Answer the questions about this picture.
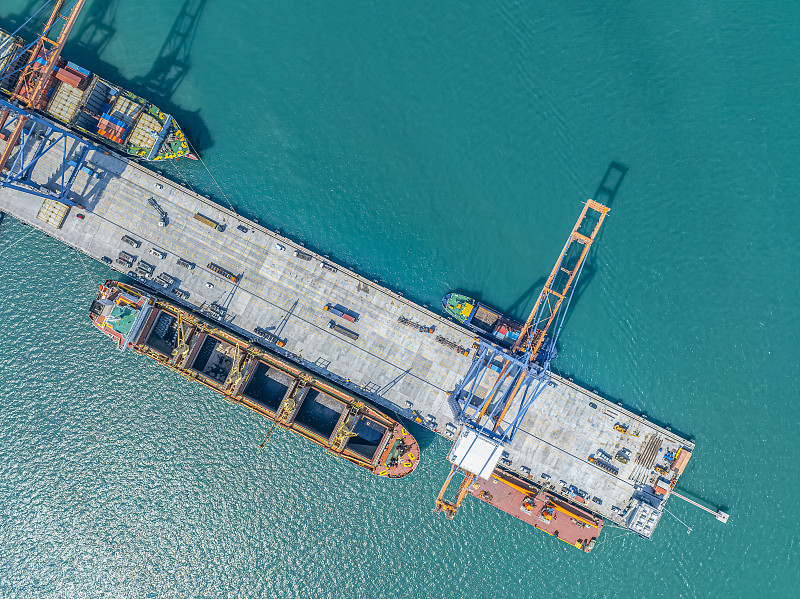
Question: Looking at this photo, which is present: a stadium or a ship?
ship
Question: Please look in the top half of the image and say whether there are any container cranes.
Yes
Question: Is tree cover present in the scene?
No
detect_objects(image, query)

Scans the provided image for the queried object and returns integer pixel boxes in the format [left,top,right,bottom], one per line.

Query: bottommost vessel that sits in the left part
[83,280,421,479]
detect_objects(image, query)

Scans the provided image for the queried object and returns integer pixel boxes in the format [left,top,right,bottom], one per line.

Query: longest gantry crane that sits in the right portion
[429,198,612,523]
